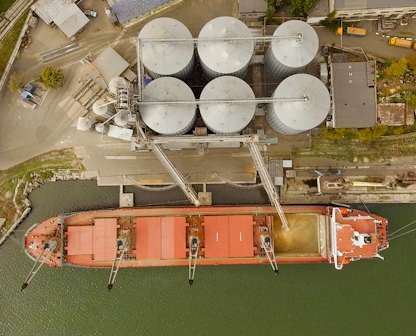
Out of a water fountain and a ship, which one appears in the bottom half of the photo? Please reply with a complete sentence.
What appears in the bottom half of the photo is a ship.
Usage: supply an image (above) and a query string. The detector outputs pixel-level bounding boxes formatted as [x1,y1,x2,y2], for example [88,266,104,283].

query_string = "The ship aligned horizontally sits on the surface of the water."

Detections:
[21,205,391,289]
